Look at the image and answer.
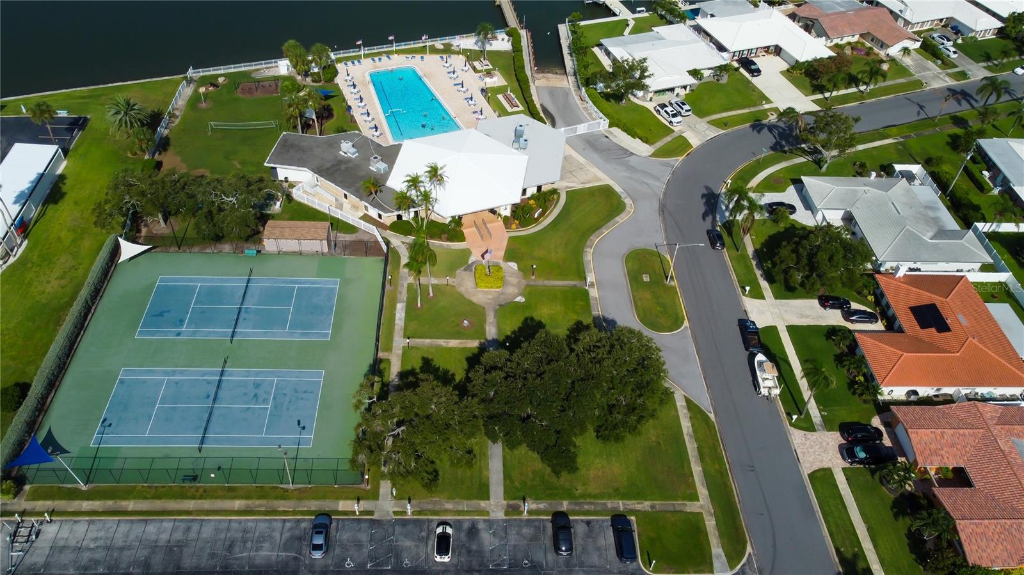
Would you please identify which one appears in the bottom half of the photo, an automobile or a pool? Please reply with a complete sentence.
The one visible in the bottom half of the photo is an automobile.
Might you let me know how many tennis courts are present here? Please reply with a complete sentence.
My tally gives 2 tennis courts in this view.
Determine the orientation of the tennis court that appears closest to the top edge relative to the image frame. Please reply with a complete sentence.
In this picture, the tennis court that appears closest to the top edge lies horizontally.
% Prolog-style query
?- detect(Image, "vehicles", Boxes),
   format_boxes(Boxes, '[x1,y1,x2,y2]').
[552,511,575,554]
[818,292,854,309]
[768,201,798,214]
[845,444,900,466]
[931,33,955,45]
[844,308,881,326]
[707,227,727,250]
[738,317,766,351]
[1014,63,1024,73]
[611,515,640,562]
[669,100,693,116]
[841,422,887,445]
[309,512,331,557]
[433,522,454,560]
[656,102,684,124]
[740,56,762,74]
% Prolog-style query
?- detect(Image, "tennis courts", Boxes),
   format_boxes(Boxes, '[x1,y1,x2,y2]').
[91,358,325,453]
[135,267,340,344]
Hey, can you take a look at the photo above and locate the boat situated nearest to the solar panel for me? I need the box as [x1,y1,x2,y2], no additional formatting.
[758,351,787,401]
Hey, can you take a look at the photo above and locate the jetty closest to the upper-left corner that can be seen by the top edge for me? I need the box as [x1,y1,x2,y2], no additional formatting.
[498,0,520,31]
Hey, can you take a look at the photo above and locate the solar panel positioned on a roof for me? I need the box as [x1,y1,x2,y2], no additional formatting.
[909,304,952,333]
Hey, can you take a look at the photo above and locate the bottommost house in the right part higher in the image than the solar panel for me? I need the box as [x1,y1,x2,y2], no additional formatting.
[800,175,993,273]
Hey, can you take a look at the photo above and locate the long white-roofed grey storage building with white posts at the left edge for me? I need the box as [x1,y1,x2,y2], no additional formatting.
[0,144,73,286]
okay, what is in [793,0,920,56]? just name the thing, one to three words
house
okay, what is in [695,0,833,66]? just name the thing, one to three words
house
